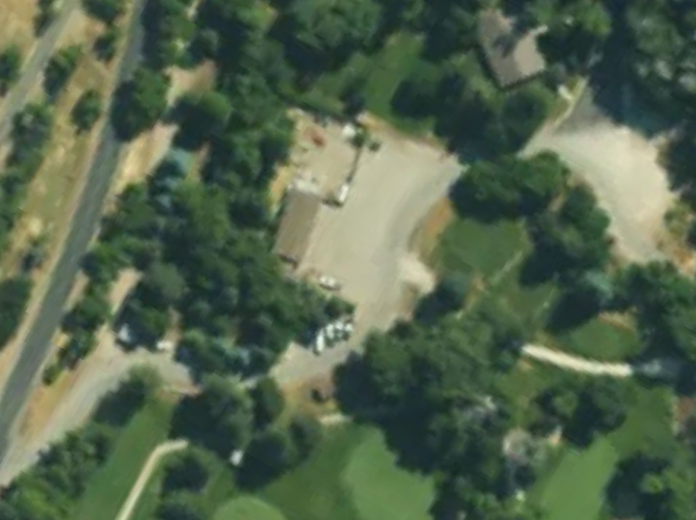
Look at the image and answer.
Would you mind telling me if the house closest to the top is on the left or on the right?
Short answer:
right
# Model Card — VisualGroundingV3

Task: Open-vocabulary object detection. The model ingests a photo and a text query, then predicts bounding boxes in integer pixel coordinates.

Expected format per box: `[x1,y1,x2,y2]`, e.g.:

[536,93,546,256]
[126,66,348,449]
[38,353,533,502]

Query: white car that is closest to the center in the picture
[320,275,339,287]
